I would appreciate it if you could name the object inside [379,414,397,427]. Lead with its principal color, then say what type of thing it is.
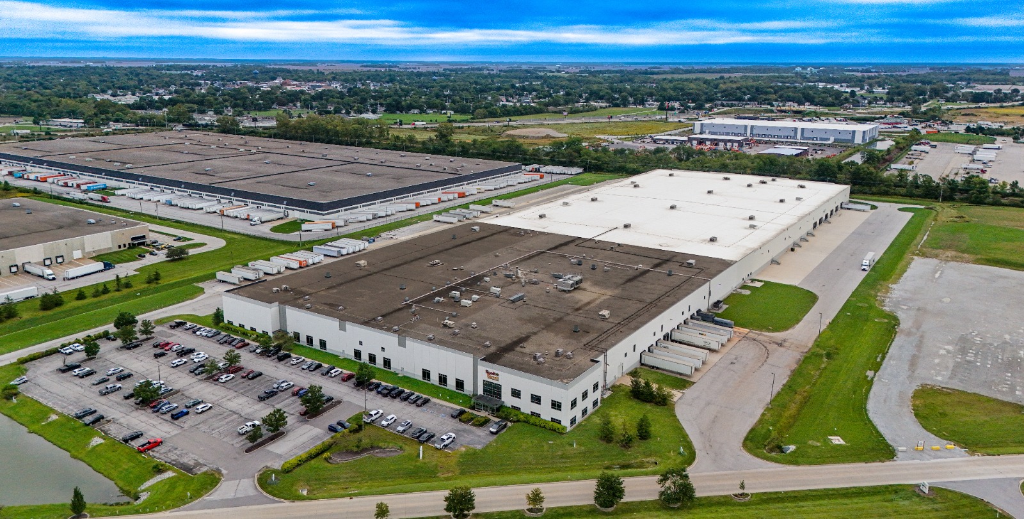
white vehicle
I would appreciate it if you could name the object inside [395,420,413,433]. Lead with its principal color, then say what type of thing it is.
gray vehicle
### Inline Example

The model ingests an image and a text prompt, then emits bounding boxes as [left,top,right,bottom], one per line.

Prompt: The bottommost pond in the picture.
[0,414,127,507]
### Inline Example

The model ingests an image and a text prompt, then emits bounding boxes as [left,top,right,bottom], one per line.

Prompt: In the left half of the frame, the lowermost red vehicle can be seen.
[135,438,164,452]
